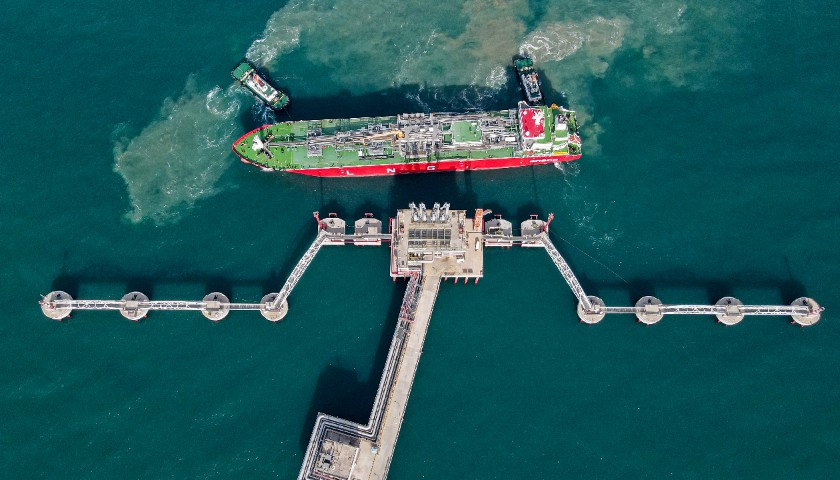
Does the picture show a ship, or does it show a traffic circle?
ship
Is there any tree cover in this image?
No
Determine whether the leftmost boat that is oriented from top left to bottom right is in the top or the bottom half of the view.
top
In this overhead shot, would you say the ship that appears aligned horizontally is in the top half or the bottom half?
top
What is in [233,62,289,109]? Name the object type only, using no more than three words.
boat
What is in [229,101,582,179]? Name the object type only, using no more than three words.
ship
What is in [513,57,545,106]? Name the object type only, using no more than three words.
boat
